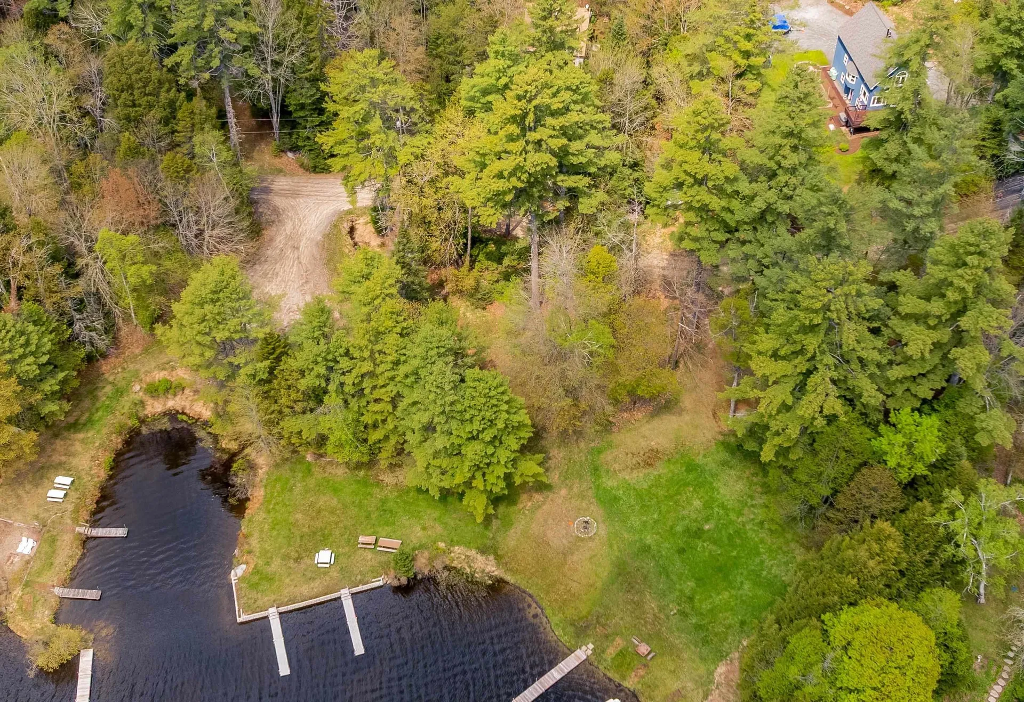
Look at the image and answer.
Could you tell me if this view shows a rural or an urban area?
rural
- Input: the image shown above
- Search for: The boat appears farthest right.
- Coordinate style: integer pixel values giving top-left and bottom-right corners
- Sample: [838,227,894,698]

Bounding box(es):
[767,16,794,28]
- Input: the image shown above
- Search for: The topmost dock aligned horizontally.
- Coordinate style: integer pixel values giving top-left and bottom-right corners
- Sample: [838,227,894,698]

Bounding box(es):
[77,524,128,539]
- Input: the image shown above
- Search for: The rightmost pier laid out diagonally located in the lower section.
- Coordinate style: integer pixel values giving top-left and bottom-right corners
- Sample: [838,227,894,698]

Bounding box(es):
[510,648,589,702]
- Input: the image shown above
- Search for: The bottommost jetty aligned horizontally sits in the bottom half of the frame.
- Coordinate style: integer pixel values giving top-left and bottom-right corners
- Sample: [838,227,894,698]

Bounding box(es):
[53,587,102,603]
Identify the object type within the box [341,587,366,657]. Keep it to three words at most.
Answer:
pier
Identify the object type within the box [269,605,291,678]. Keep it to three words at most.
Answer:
pier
